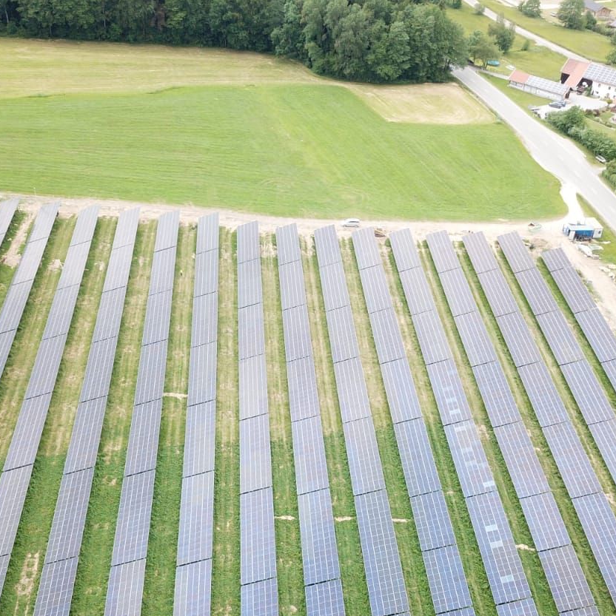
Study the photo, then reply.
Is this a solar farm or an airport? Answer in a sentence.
What you see here is a solar farm.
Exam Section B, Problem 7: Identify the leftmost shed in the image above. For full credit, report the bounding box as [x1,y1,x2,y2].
[510,74,572,103]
